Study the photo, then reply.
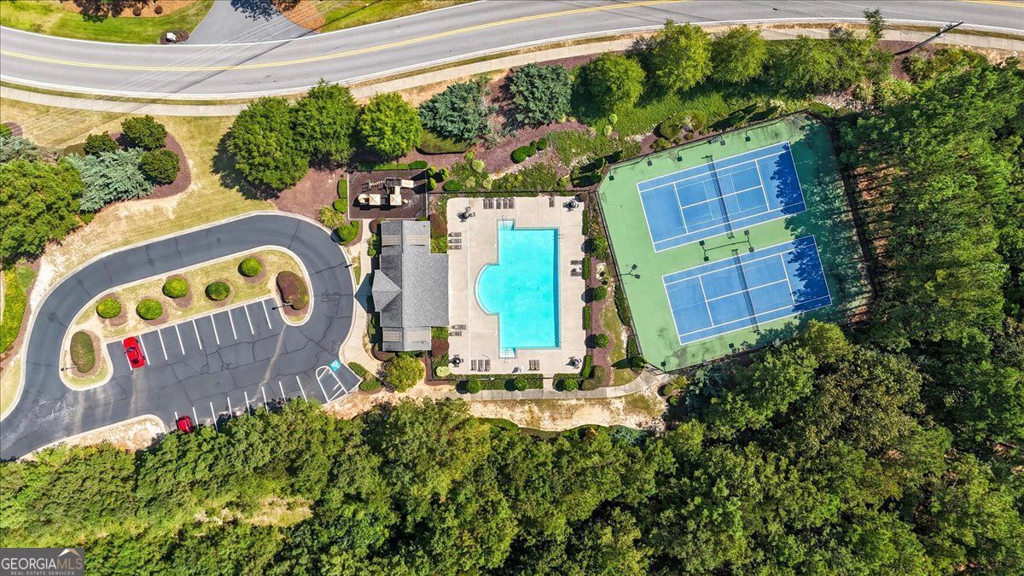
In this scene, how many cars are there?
2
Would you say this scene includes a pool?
Yes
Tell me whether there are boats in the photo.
No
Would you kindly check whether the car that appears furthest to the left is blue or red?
red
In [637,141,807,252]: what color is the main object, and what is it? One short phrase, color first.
blue tennis court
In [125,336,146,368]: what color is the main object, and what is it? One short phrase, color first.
red car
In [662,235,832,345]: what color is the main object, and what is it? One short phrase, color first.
blue tennis court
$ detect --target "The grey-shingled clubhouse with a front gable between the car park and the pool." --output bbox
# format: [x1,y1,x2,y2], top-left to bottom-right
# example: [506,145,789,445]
[372,220,450,353]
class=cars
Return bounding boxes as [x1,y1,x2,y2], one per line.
[125,336,146,368]
[178,415,199,444]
